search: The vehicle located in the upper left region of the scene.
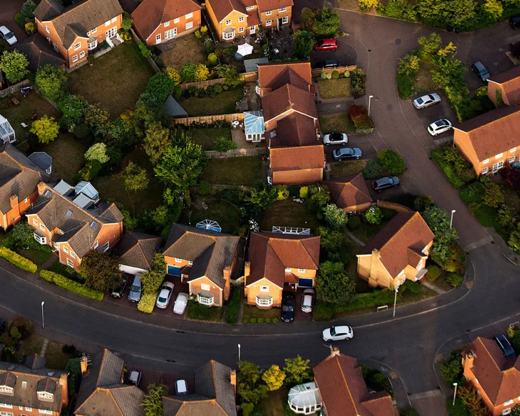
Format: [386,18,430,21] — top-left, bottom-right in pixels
[0,26,17,47]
